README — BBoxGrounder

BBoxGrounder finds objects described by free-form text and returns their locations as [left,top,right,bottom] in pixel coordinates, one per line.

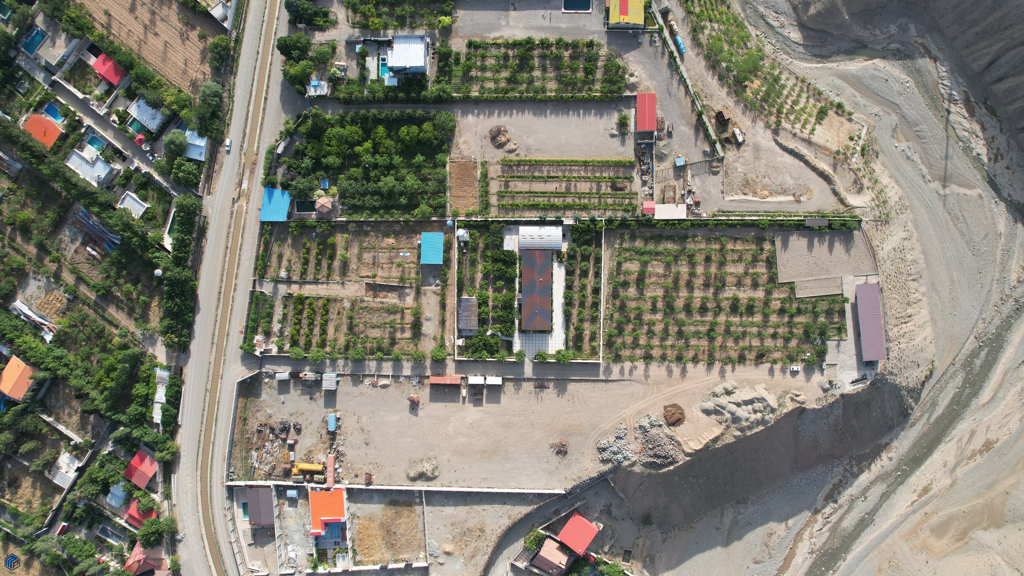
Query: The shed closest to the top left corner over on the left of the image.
[54,39,84,65]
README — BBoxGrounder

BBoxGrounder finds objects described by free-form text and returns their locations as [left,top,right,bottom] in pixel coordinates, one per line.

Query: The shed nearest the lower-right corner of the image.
[851,284,885,361]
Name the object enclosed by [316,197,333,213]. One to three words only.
gazebo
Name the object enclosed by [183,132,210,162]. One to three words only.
shed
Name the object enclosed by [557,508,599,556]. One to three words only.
house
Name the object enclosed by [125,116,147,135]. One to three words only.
swimming pool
